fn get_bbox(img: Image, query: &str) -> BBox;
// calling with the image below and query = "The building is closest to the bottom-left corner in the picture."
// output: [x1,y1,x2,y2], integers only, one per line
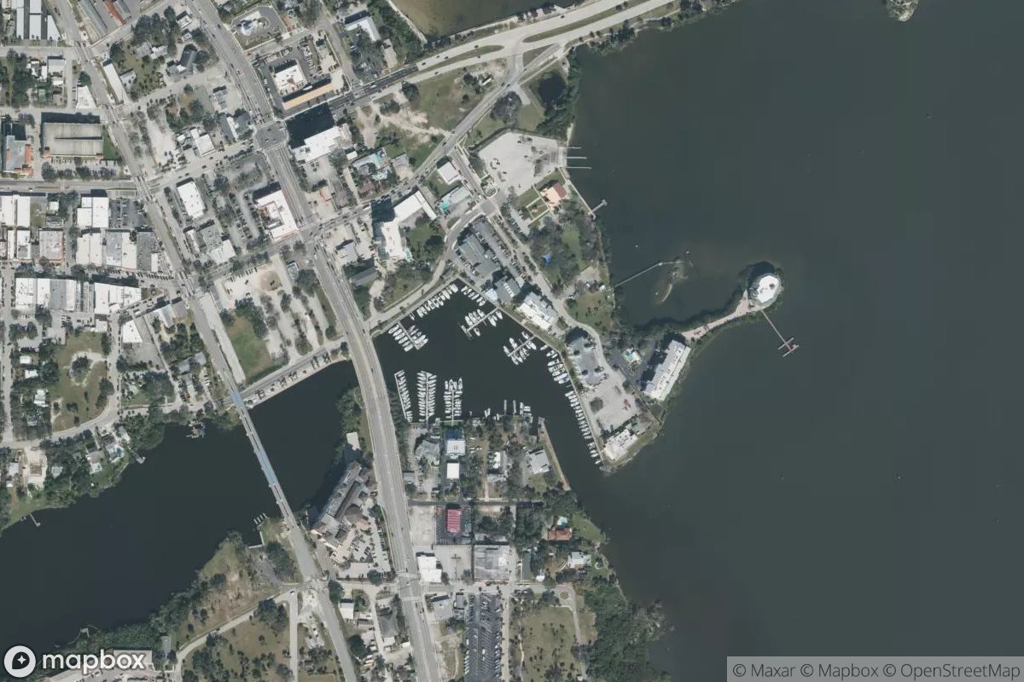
[113,650,159,672]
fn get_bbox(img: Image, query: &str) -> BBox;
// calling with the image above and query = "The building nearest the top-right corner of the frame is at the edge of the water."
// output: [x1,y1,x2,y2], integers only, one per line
[757,275,781,303]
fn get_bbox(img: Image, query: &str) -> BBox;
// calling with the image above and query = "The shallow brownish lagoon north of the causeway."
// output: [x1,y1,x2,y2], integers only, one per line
[394,0,571,41]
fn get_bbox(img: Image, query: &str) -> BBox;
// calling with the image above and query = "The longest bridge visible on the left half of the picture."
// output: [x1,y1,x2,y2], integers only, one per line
[227,387,293,518]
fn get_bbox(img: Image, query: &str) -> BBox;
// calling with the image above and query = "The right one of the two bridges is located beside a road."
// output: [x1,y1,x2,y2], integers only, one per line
[346,336,386,392]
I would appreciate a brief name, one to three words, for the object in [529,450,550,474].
house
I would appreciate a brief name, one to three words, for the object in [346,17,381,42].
building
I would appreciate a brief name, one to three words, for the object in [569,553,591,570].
house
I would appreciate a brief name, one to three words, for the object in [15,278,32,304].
building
